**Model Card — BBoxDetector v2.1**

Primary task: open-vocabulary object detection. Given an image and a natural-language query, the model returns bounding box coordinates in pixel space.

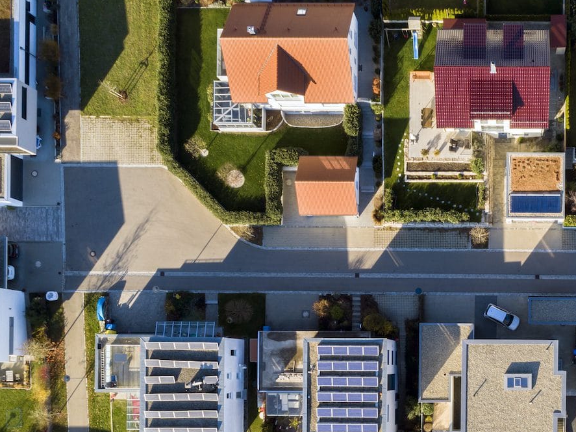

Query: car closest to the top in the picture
[9,241,29,259]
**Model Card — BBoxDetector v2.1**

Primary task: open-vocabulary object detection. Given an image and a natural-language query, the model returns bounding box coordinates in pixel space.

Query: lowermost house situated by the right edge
[419,323,567,432]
